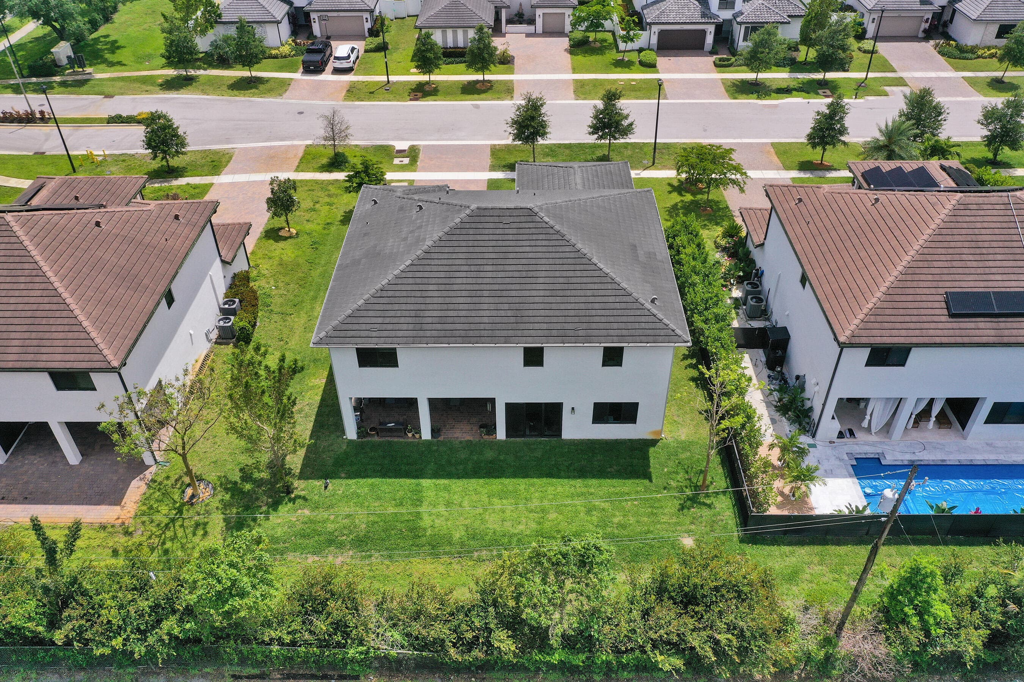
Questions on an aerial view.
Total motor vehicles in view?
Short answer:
2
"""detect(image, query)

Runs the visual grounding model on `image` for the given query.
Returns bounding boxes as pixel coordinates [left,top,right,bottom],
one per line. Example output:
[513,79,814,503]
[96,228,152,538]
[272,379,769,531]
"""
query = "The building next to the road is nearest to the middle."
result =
[310,160,693,440]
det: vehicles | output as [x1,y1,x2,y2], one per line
[333,41,361,66]
[301,35,334,65]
